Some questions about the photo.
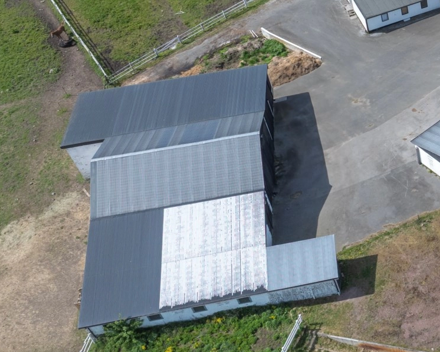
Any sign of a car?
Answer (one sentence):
No, there's no car here.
